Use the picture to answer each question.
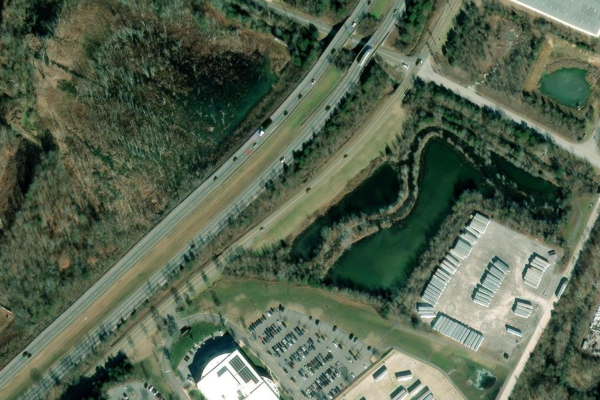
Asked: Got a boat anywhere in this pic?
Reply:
No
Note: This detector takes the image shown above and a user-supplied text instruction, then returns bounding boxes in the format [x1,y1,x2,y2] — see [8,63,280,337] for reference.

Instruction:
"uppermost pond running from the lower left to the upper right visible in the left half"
[181,53,279,166]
